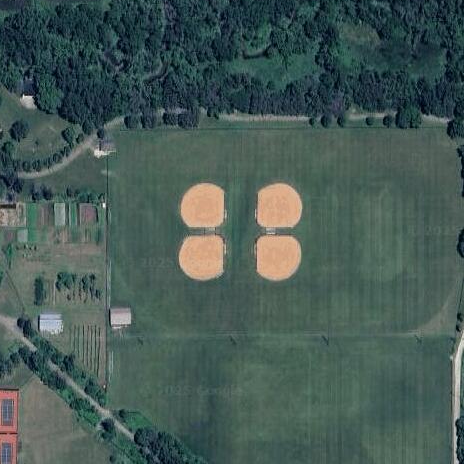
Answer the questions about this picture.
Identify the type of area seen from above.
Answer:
sports ground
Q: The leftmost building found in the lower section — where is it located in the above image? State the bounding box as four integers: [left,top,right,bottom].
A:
[40,315,63,331]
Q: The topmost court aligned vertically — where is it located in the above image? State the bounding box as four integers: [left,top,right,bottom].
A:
[0,389,18,432]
